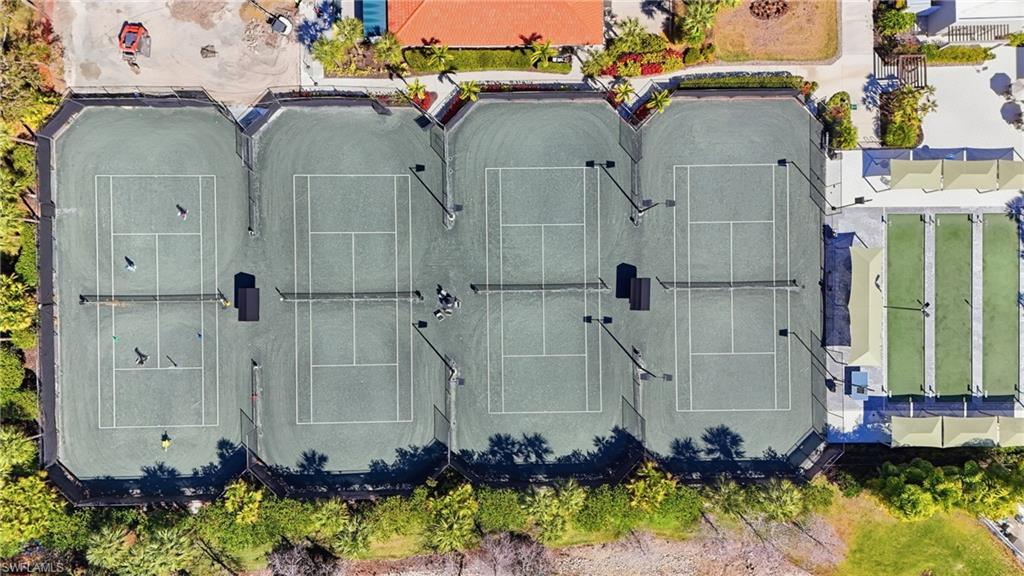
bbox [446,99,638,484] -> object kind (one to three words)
tennis court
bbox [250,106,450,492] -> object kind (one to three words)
tennis court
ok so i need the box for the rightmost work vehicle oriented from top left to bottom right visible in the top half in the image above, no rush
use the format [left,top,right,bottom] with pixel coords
[243,5,300,43]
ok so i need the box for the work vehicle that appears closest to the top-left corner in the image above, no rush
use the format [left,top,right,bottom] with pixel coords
[121,22,154,78]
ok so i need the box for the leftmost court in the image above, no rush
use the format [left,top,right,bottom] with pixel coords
[53,105,257,497]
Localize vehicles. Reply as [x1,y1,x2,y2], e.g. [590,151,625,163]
[243,5,300,43]
[121,22,154,78]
